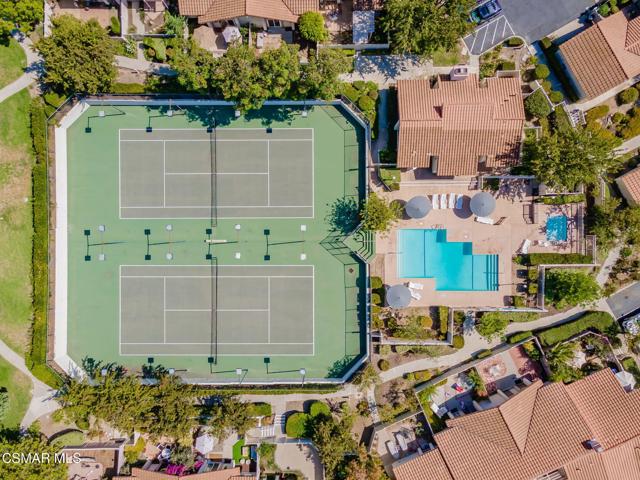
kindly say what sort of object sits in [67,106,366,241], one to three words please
tennis court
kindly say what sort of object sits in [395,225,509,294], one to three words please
swimming pool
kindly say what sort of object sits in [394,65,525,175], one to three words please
building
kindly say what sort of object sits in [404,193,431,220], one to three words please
umbrella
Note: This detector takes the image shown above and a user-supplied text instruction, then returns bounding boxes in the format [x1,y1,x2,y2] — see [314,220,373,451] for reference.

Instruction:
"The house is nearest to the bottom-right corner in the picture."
[392,366,640,480]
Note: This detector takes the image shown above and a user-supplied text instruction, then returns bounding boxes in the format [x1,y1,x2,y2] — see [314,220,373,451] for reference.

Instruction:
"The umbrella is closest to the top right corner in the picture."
[469,191,496,218]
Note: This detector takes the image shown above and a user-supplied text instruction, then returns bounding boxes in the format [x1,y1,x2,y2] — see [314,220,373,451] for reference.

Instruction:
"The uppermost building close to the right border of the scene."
[555,11,640,102]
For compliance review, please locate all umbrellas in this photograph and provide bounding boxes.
[193,28,218,51]
[404,193,431,220]
[196,432,216,452]
[469,191,496,218]
[144,440,159,456]
[222,24,239,45]
[386,283,411,309]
